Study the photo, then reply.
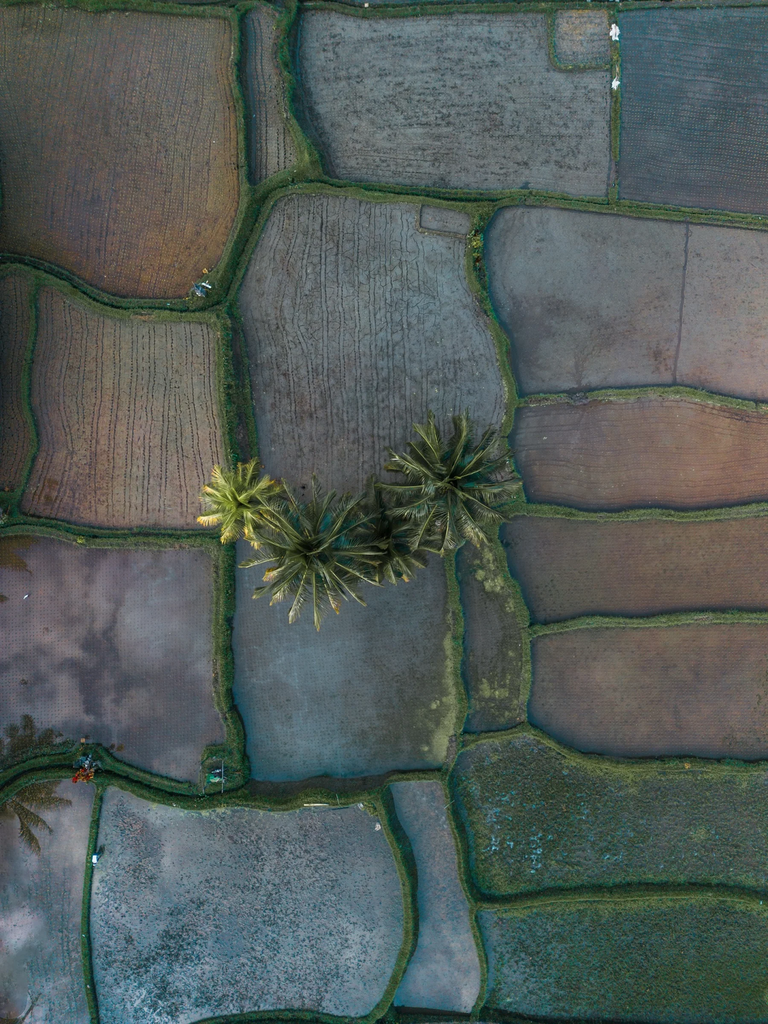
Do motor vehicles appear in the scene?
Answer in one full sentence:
No, there's no motor vehicle here.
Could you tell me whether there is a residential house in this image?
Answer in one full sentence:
No, there is no residential house in the image.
